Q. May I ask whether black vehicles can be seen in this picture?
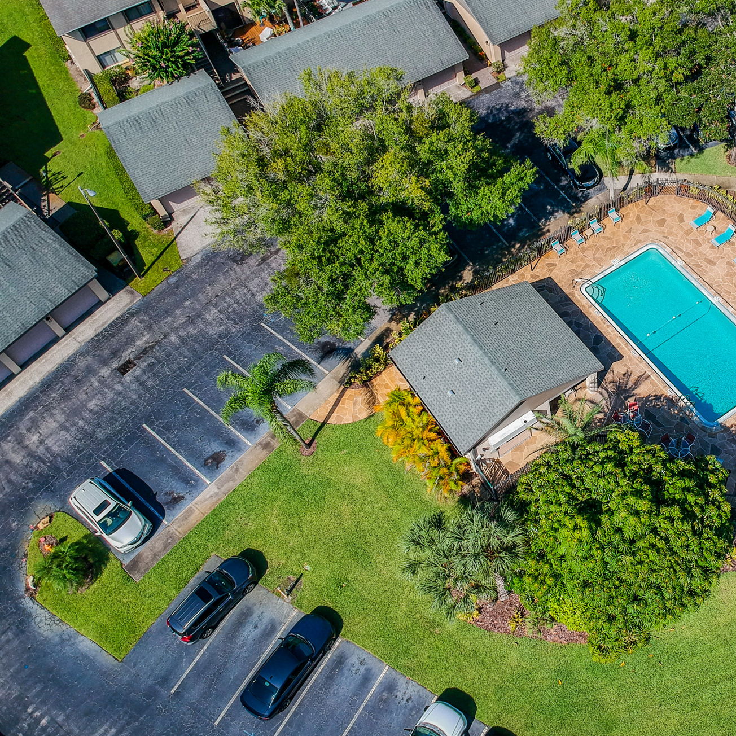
Yes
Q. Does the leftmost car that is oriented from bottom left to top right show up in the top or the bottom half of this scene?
bottom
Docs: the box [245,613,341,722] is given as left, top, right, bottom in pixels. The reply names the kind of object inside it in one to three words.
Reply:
car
